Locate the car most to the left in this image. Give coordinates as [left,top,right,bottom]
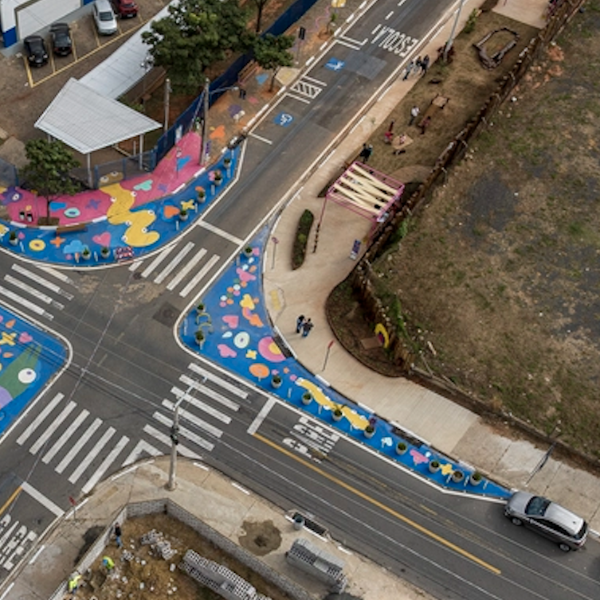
[20,28,50,65]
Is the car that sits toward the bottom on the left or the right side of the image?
right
